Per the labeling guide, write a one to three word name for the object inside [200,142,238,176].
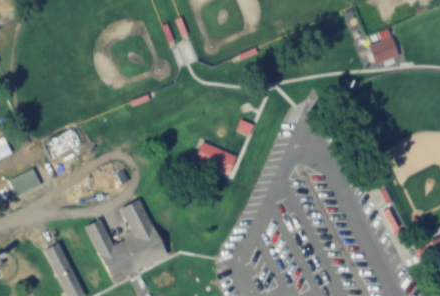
building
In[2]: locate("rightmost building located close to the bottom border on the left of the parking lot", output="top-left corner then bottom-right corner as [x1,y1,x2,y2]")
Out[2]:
[84,198,168,284]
